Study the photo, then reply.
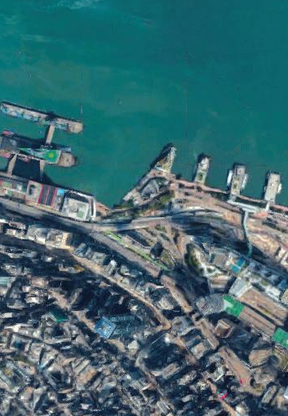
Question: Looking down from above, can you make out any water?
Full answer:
Yes, water can be seen from above here.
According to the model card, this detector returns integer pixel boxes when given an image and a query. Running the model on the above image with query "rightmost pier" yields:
[264,172,281,211]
